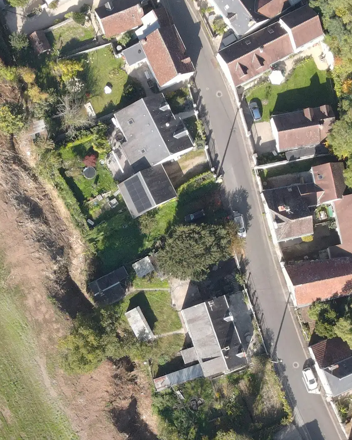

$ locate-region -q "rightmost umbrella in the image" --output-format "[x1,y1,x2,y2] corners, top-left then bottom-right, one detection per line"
[270,65,290,83]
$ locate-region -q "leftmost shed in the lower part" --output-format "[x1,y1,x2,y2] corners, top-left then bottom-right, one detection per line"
[89,266,133,305]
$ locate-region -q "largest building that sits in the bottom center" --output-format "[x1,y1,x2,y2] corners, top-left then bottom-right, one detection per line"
[178,296,249,378]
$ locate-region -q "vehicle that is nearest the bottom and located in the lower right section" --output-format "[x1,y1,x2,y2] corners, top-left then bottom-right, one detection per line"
[300,365,318,393]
